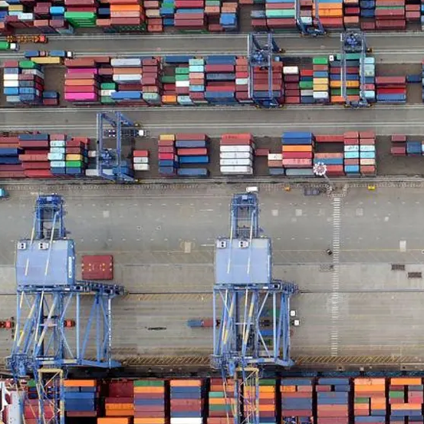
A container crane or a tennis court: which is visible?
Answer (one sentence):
Looking from above, you can make out a container crane.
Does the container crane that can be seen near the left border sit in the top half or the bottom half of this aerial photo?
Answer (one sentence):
The container crane that can be seen near the left border sits in the bottom half of the picture.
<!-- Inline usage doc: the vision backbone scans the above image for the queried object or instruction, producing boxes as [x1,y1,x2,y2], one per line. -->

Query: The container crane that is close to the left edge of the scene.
[4,195,127,424]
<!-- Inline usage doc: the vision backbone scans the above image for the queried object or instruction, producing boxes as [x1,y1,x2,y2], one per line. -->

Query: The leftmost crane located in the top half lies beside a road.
[96,109,144,180]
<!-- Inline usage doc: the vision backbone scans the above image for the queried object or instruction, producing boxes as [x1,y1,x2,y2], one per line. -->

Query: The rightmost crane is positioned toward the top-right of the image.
[341,29,376,105]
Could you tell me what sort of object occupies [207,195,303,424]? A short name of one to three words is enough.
container crane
